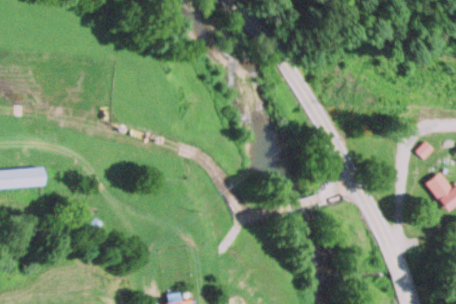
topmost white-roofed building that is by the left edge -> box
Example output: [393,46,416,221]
[0,164,48,188]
